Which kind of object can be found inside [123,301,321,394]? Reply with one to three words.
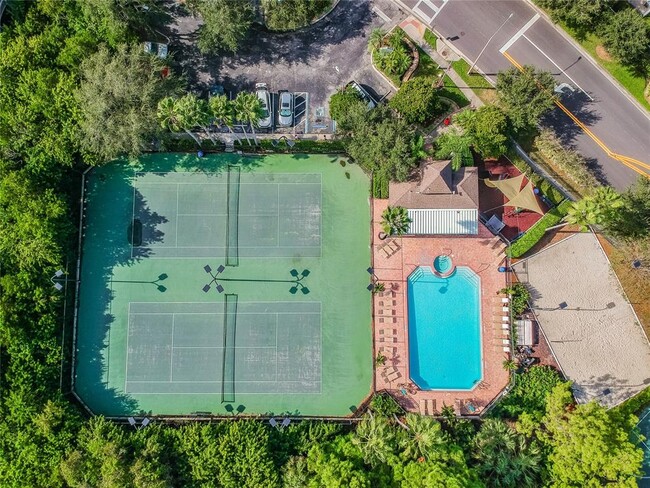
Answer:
tennis court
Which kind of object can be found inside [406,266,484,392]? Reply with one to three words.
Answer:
swimming pool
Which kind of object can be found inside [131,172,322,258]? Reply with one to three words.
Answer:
tennis court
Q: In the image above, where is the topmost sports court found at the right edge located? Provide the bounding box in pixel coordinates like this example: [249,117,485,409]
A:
[512,230,650,419]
